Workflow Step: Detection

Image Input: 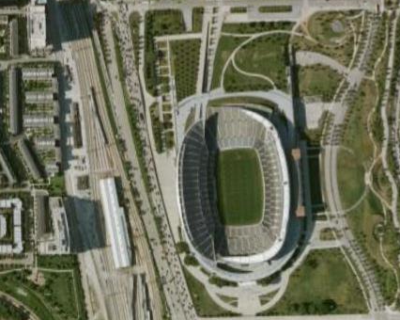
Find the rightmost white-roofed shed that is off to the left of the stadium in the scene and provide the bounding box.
[100,179,133,267]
